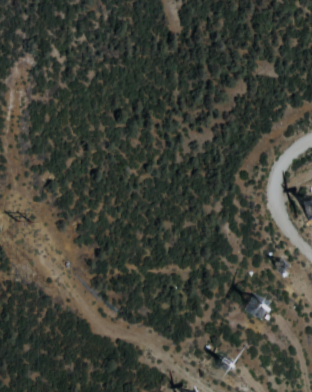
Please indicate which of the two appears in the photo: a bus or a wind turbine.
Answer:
wind turbine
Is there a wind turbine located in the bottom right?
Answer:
Yes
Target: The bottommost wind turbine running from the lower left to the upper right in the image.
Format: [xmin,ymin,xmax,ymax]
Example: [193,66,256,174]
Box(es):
[218,346,246,376]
